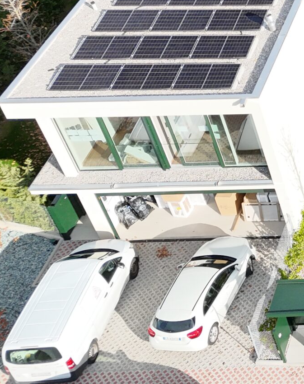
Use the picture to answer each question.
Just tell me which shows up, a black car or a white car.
white car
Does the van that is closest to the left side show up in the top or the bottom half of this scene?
bottom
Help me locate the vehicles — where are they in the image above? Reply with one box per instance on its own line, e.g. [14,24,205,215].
[142,245,251,360]
[2,244,139,384]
